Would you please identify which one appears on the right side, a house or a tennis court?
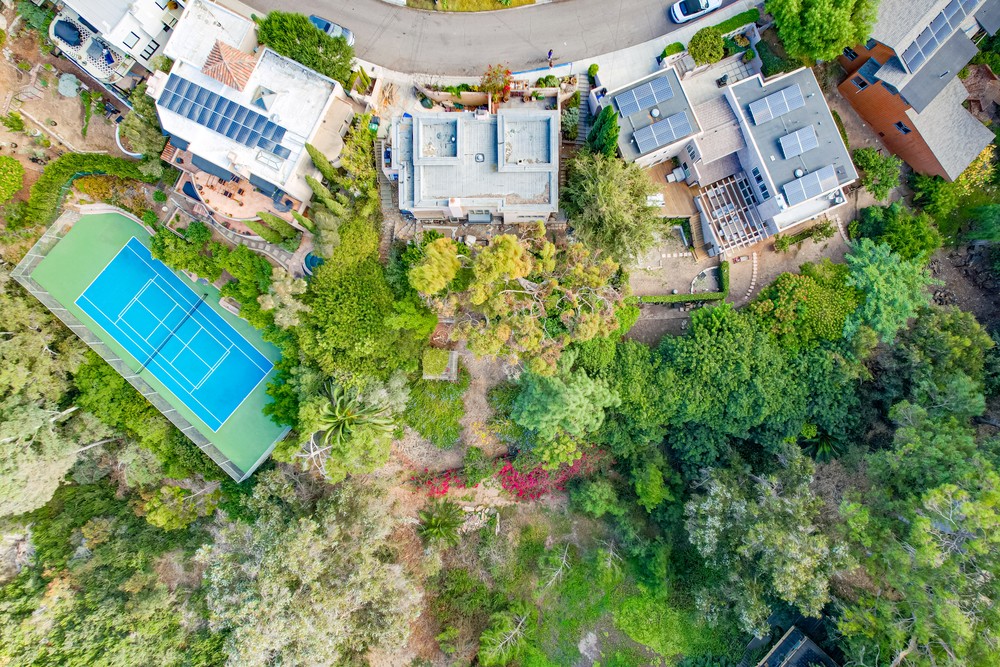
house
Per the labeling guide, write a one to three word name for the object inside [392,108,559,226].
house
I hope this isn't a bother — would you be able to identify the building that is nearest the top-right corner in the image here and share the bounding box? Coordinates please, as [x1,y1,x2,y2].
[842,0,1000,183]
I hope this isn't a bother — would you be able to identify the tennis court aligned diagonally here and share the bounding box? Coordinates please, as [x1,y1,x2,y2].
[31,209,294,470]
